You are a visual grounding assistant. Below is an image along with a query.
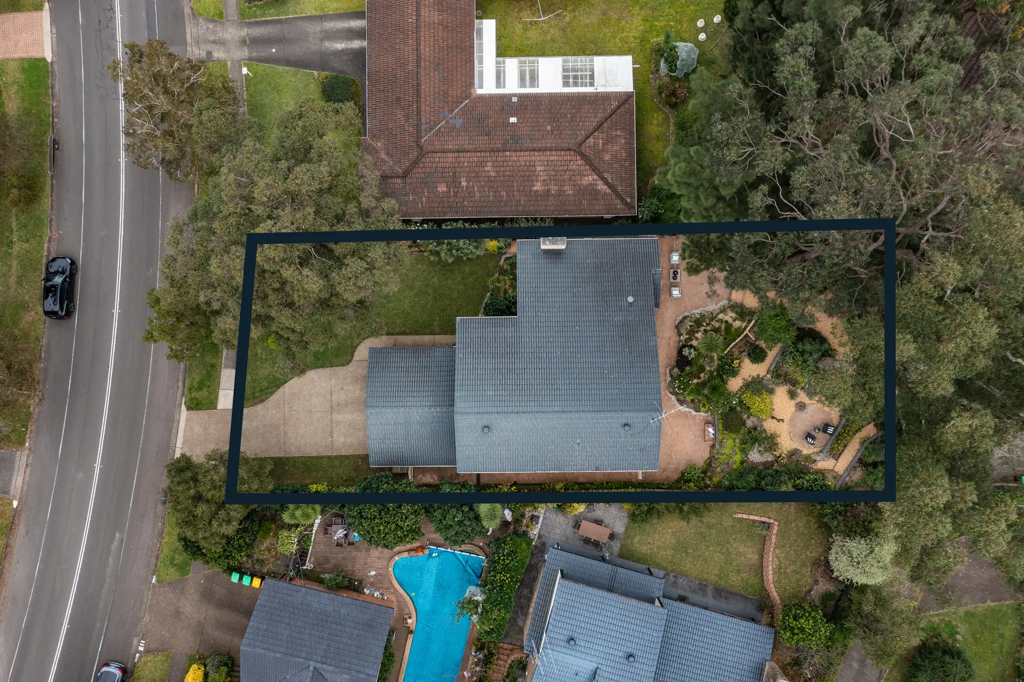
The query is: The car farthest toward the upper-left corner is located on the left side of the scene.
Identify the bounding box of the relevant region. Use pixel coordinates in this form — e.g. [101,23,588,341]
[39,256,77,320]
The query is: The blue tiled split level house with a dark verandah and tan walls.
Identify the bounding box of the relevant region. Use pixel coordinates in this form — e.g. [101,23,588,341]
[508,530,775,682]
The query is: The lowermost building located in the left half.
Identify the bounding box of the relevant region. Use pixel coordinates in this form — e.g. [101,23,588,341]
[239,572,396,682]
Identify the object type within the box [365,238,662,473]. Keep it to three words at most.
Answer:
house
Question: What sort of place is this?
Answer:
residential area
